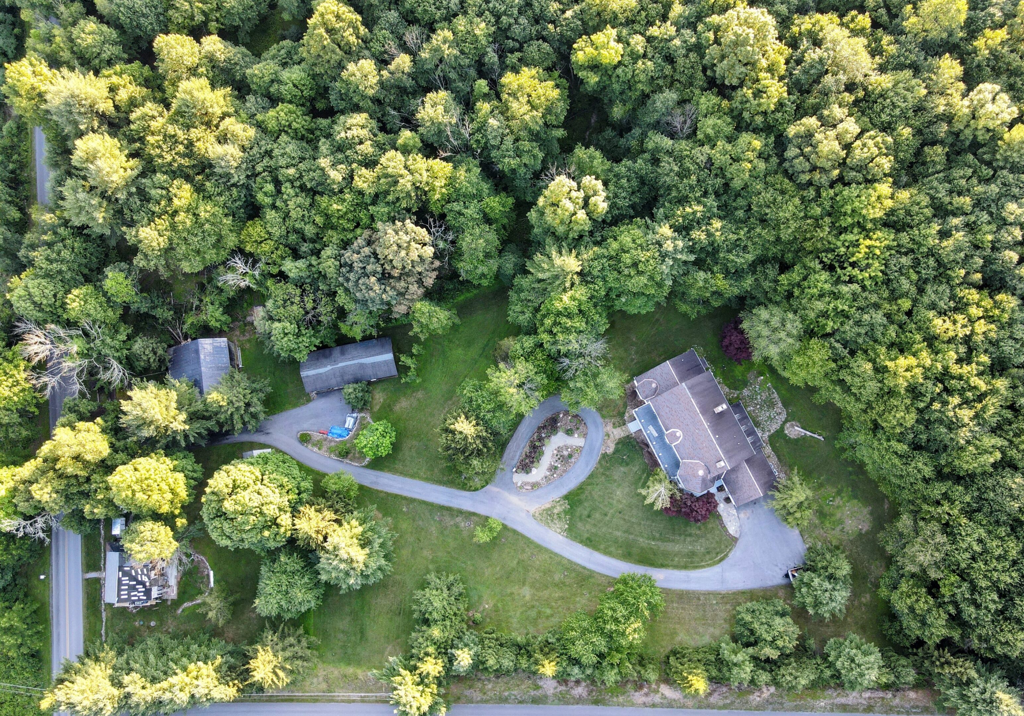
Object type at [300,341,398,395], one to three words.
shed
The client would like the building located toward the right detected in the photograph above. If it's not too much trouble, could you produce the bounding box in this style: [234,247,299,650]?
[627,348,776,507]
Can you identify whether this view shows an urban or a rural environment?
rural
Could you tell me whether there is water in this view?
No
